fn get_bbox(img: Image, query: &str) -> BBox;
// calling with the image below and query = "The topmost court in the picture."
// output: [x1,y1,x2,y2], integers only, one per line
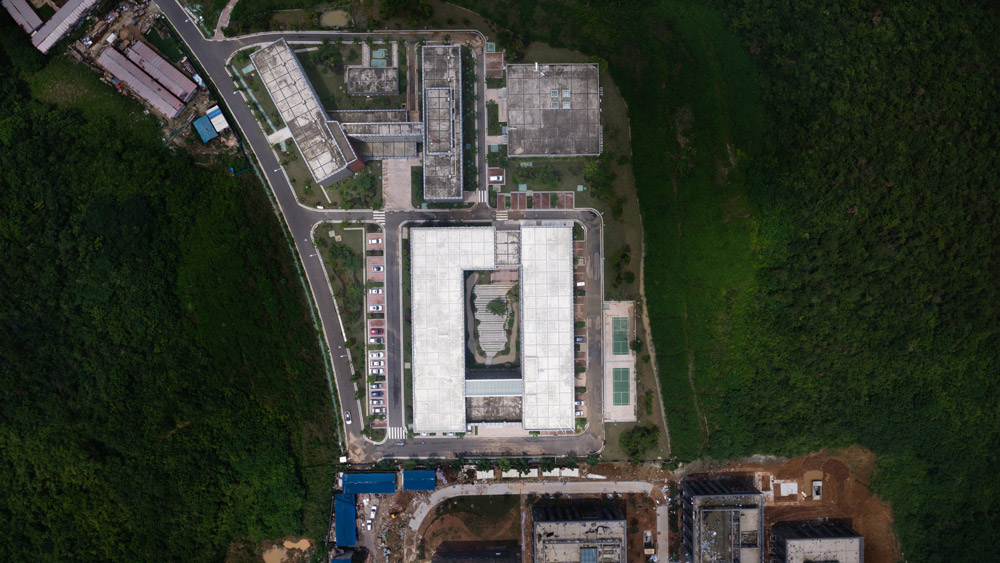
[612,317,630,354]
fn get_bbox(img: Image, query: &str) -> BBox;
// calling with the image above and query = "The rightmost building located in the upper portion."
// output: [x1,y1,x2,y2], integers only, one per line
[503,62,604,160]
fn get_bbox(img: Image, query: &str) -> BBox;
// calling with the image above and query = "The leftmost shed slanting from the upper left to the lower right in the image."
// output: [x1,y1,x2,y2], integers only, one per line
[1,0,46,34]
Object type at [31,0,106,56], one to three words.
shed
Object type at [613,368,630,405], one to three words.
sports court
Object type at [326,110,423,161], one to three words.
building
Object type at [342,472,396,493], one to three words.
shed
